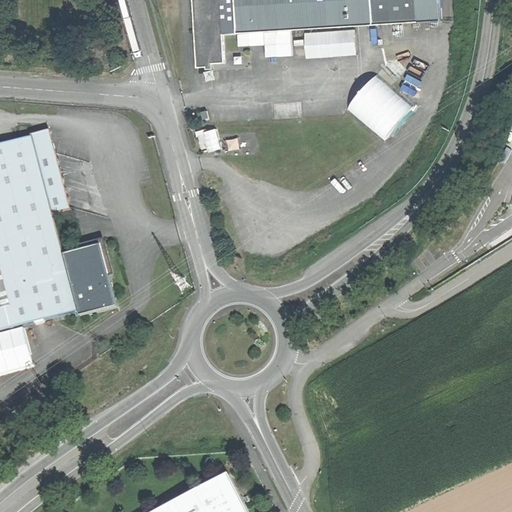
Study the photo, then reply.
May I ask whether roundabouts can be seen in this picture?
Yes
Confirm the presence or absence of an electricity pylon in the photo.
Yes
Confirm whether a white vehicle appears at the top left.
Yes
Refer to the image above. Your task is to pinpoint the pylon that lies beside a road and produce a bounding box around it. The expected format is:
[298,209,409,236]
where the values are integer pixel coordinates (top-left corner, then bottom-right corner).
[166,268,194,296]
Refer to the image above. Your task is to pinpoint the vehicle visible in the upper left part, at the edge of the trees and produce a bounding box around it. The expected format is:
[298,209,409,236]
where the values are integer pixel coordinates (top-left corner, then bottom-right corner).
[118,0,142,60]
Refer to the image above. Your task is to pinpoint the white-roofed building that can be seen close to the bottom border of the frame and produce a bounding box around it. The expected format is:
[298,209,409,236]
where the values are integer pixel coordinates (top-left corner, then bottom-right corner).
[150,472,250,512]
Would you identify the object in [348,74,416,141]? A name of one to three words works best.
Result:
hangar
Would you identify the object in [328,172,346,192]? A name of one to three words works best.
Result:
vehicle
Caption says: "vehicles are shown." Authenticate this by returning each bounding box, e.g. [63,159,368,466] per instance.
[328,172,346,192]
[118,0,142,60]
[358,160,366,170]
[501,145,512,163]
[342,177,352,190]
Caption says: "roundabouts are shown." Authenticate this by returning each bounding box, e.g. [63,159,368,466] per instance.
[182,284,296,398]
